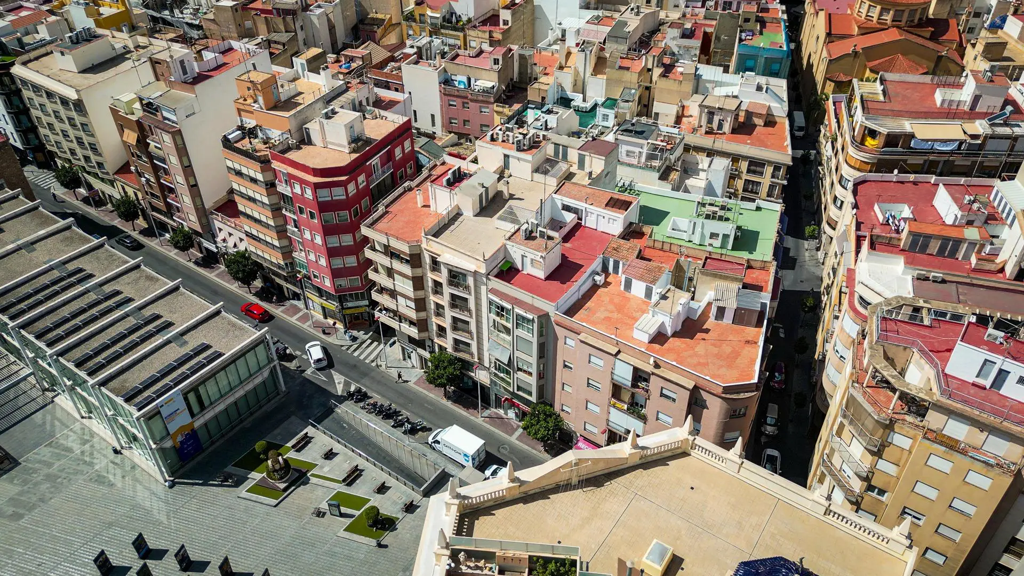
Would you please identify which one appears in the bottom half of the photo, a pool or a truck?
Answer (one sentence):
The one visible in the bottom half of the photo is a truck.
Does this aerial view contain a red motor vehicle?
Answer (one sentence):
Yes, a red motor vehicle is visible in the scene.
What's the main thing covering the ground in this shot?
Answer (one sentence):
For the most part, this view shows buildings.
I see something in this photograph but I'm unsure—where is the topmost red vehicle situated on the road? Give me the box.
[242,302,271,321]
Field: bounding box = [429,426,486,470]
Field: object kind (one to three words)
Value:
truck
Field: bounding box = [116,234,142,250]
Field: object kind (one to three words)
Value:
car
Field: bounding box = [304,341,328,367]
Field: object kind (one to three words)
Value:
car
